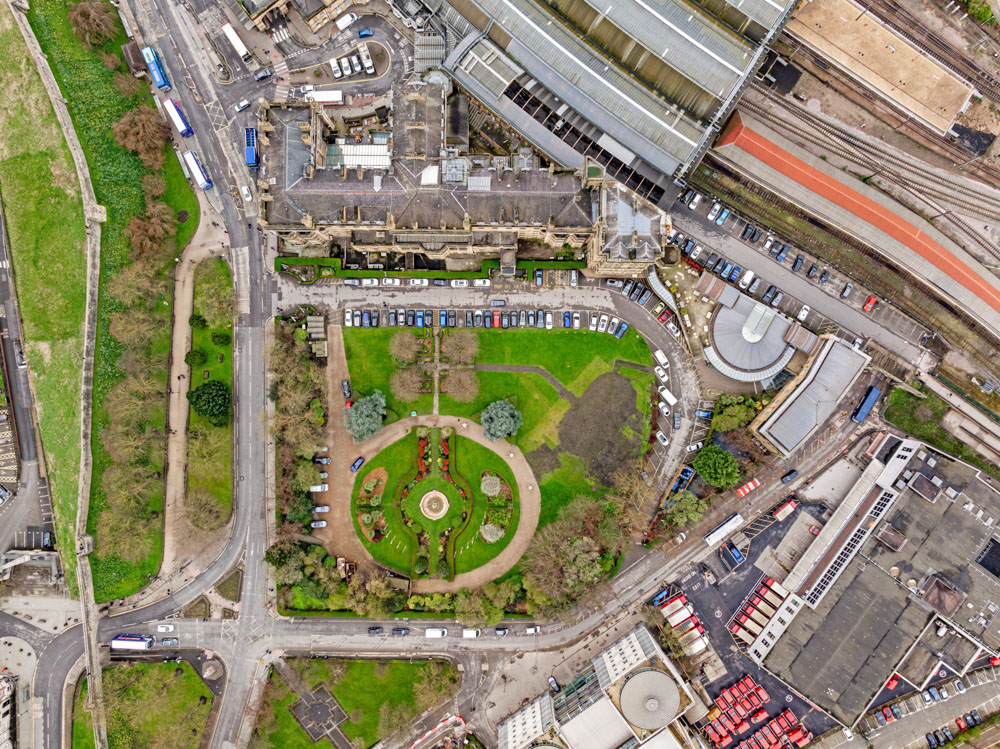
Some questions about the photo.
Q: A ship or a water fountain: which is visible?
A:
water fountain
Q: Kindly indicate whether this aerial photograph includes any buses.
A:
Yes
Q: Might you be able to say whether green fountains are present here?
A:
No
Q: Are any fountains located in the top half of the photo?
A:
No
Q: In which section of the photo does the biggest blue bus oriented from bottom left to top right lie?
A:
right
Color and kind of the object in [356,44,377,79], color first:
white vehicle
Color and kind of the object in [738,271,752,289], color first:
white vehicle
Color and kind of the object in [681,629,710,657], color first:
white truck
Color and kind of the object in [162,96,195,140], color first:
white bus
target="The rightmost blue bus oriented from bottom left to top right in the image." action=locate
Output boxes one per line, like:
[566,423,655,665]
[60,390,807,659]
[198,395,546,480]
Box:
[849,385,883,423]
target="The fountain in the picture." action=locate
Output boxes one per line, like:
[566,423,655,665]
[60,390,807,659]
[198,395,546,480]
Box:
[418,490,449,520]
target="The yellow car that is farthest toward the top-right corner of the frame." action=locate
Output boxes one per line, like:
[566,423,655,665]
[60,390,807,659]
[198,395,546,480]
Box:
[651,301,666,315]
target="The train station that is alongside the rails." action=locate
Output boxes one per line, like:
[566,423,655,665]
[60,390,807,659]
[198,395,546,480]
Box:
[440,0,812,213]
